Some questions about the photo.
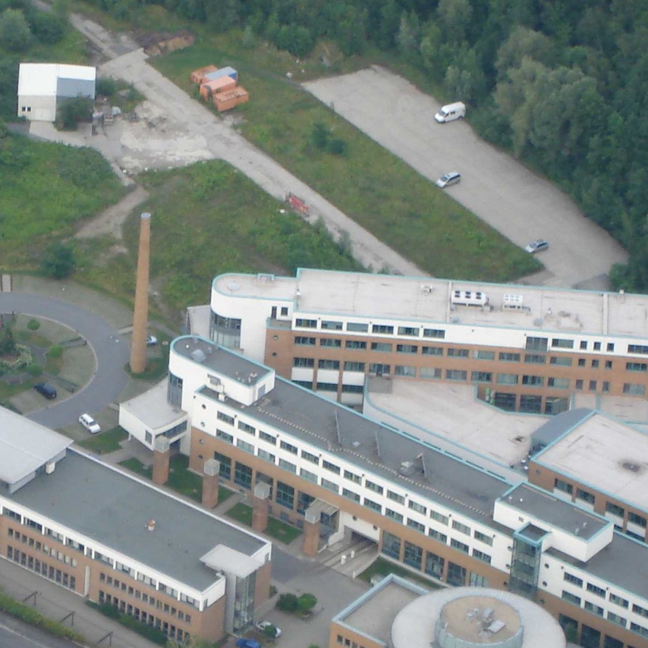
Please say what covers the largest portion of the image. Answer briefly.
buildings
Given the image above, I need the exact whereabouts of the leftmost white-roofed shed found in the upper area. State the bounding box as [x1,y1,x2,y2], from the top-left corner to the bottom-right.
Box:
[20,64,101,123]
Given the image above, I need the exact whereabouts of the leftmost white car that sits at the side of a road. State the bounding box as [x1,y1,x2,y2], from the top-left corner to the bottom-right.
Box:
[80,415,100,434]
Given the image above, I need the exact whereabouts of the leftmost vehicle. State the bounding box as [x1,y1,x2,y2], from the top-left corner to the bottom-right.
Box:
[34,385,58,400]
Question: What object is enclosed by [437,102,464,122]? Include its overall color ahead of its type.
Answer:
white vehicle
